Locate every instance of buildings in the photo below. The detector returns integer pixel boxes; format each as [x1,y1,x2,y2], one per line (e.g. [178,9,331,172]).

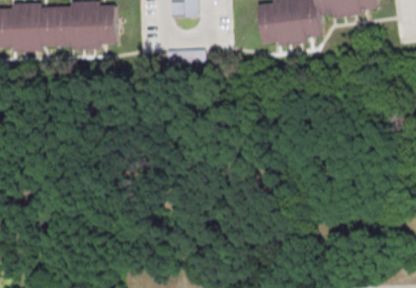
[256,0,319,46]
[172,0,200,18]
[168,48,206,62]
[0,2,116,52]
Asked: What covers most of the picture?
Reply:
trees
